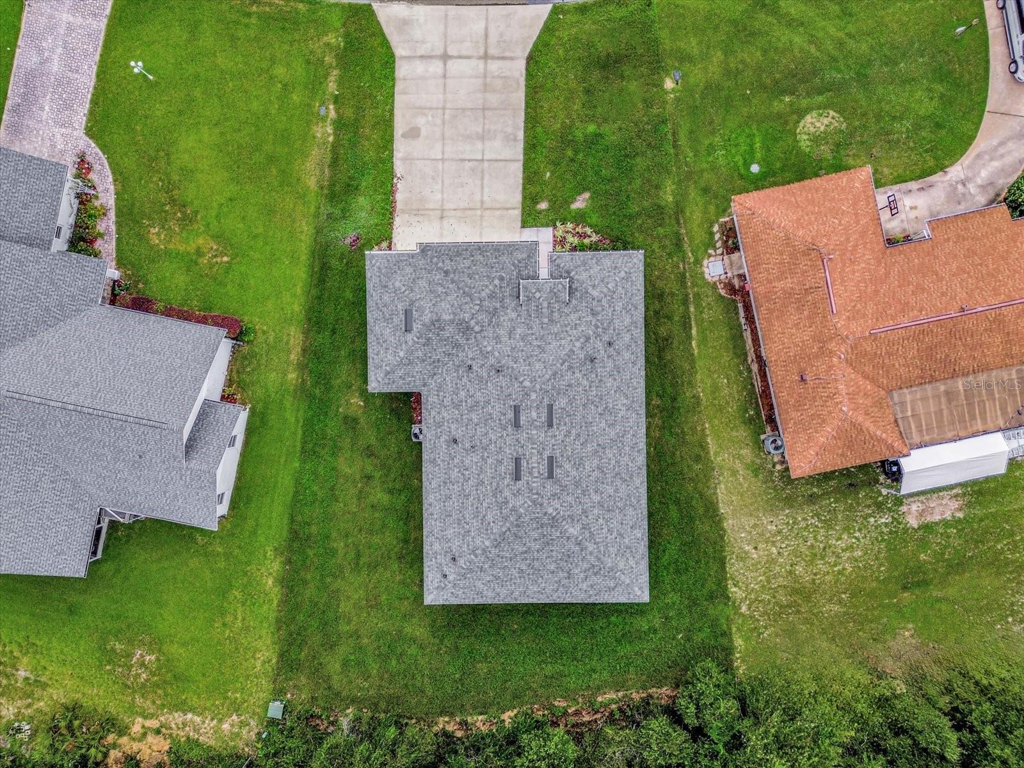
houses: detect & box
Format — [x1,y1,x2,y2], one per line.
[0,148,251,579]
[366,239,649,605]
[730,166,1024,479]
